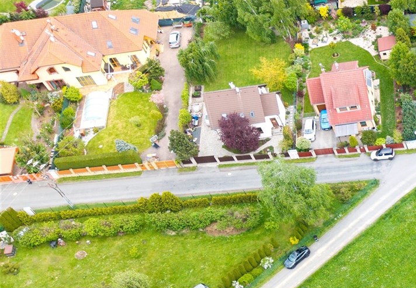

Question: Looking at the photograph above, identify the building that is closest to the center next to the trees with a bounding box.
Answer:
[205,84,291,136]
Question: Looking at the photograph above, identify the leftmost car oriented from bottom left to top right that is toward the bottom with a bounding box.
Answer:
[282,243,310,267]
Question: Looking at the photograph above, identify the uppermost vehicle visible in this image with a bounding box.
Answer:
[166,28,180,46]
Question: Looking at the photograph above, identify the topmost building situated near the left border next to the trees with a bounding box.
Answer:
[0,12,161,97]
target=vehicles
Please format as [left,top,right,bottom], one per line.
[370,145,394,160]
[166,28,180,46]
[301,117,314,139]
[282,243,310,267]
[316,107,331,128]
[190,281,207,288]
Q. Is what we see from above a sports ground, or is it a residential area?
residential area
